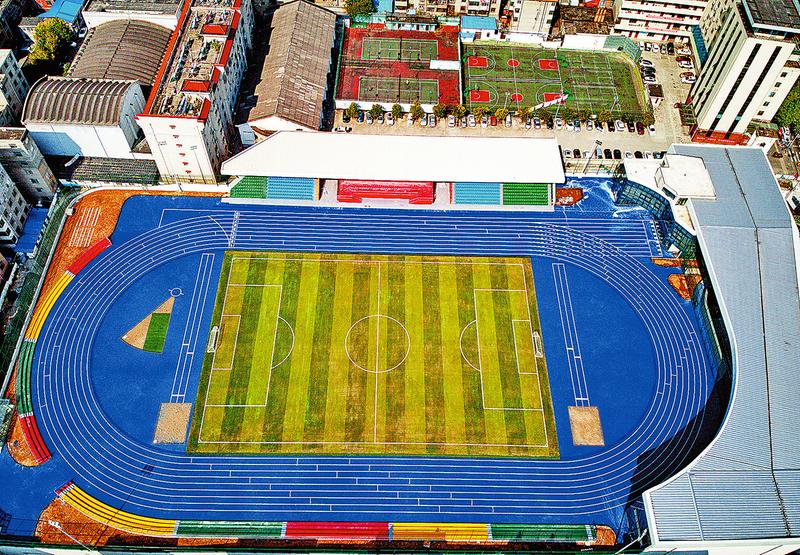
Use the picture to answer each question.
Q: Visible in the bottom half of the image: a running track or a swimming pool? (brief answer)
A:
running track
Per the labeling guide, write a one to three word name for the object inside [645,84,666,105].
shed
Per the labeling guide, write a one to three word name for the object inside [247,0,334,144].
building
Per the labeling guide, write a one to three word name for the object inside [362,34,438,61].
tennis court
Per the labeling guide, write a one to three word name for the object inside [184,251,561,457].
sports field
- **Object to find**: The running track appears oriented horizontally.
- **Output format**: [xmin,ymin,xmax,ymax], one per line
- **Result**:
[28,210,711,521]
